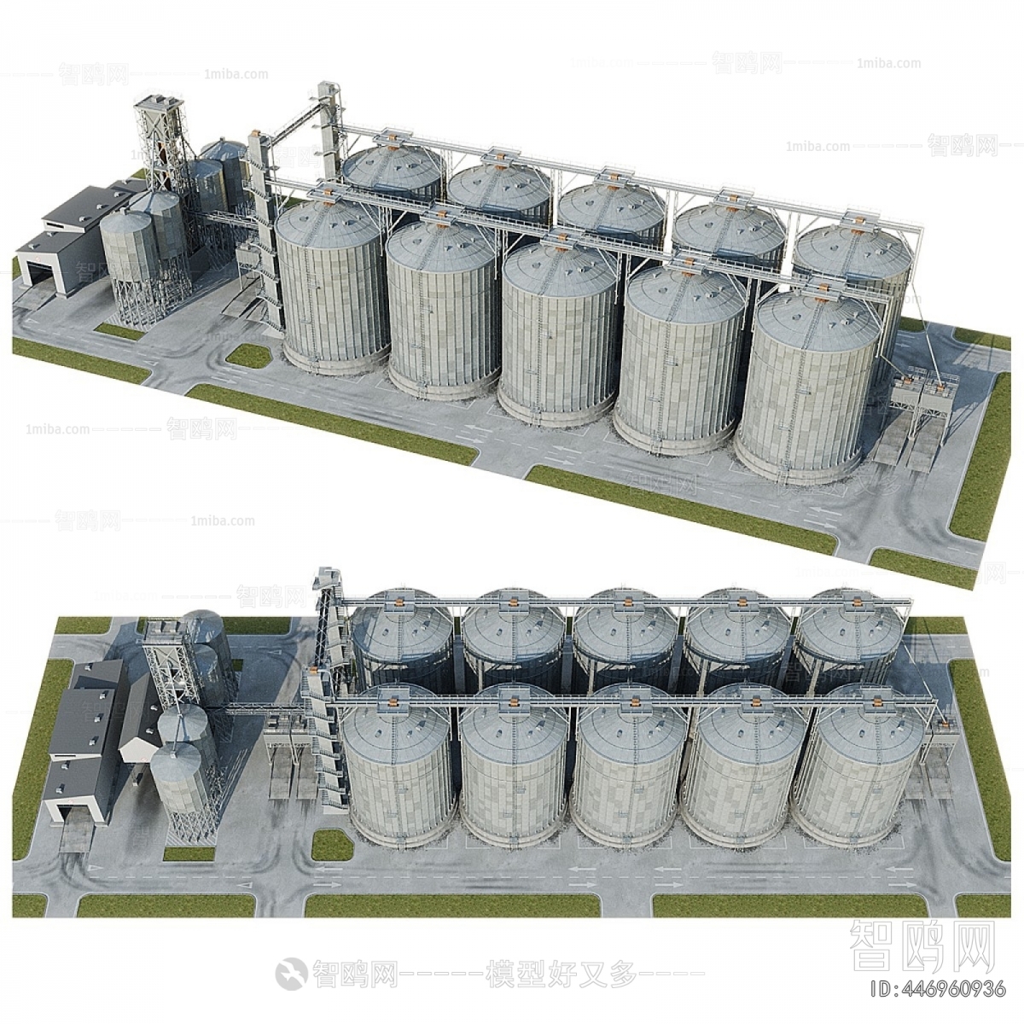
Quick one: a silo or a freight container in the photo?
silo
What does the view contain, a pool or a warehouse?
warehouse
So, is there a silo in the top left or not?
Yes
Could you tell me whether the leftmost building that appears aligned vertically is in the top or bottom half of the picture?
bottom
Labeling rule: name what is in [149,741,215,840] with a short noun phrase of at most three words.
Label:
silo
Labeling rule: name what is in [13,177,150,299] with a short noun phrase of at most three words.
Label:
warehouse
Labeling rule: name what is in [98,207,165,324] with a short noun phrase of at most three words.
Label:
silo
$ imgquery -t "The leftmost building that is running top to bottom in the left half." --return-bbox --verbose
[43,653,132,826]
